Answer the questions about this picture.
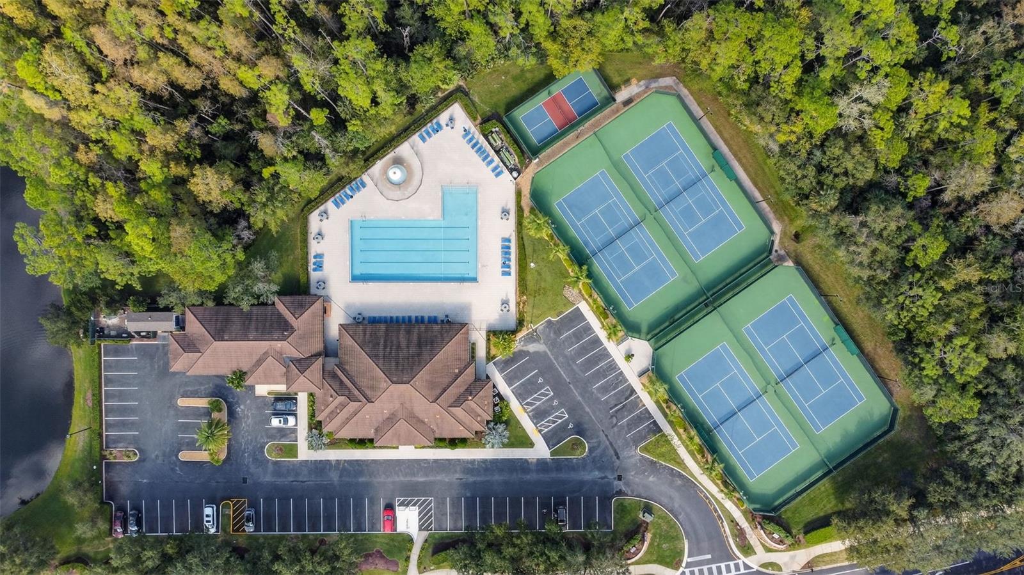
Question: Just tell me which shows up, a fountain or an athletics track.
fountain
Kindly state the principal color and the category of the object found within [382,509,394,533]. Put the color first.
red vehicle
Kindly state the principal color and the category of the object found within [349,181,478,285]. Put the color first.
blue swimming pool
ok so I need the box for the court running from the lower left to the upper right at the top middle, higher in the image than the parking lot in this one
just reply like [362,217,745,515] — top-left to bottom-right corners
[508,70,614,154]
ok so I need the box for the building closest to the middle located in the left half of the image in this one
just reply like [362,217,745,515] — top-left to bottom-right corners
[316,323,492,446]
